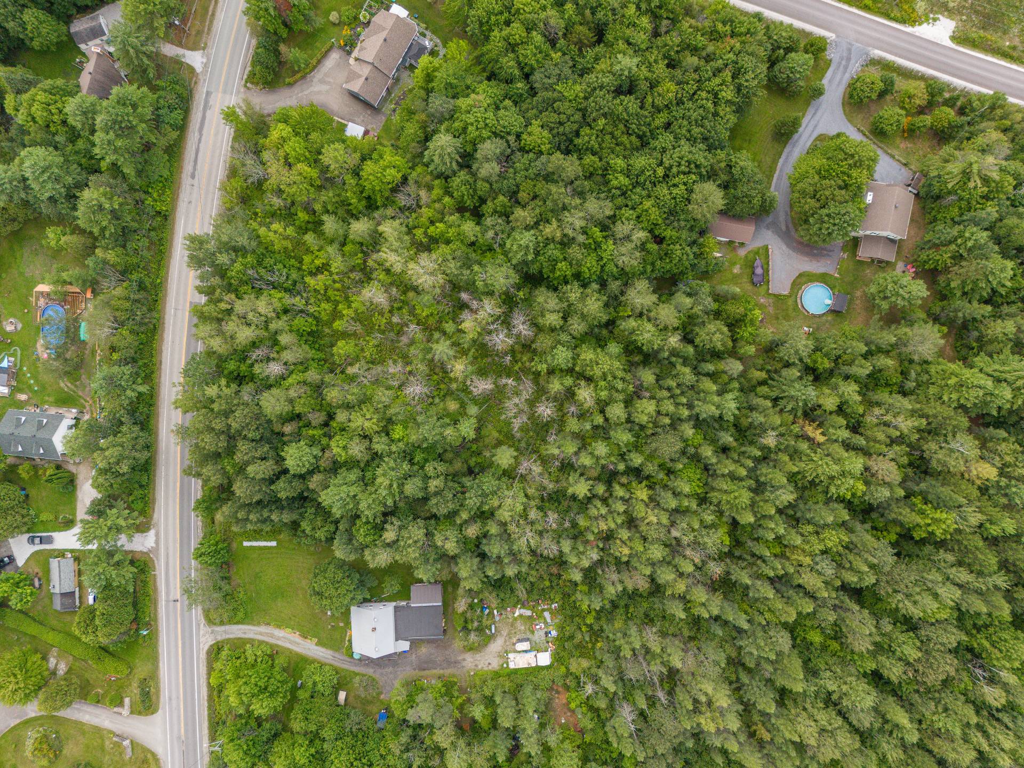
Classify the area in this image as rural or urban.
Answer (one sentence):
From above, the setting appears rural.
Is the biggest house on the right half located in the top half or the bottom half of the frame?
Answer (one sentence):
You can find the biggest house on the right half in the top half.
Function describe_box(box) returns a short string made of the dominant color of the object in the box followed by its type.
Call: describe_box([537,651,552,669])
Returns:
white vehicle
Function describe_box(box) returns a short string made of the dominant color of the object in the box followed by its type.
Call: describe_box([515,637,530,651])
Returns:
white boat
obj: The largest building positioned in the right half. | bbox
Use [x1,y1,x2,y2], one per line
[849,182,914,265]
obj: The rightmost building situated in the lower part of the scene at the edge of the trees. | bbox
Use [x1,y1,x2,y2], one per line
[351,580,444,663]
